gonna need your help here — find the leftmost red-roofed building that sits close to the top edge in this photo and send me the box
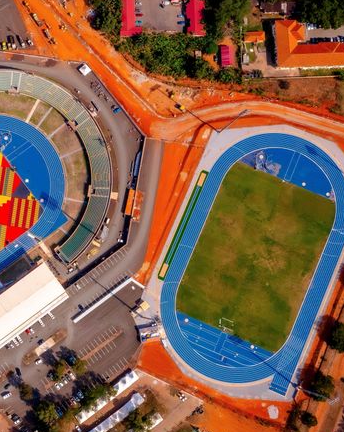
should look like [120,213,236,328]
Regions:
[120,0,142,38]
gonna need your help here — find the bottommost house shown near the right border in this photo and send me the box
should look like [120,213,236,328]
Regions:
[271,20,344,69]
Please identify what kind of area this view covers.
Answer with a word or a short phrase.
sports ground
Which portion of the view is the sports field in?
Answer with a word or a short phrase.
right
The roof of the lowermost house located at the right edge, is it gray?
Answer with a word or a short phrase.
No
